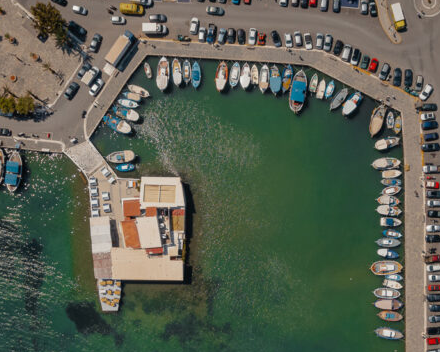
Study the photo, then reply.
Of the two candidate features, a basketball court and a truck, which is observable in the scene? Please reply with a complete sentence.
Of the two, only a truck appears.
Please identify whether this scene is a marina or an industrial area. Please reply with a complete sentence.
This looks like a marina.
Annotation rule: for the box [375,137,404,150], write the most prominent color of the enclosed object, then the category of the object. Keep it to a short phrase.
white boat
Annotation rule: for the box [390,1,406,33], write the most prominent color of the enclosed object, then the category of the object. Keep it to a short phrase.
white vehicle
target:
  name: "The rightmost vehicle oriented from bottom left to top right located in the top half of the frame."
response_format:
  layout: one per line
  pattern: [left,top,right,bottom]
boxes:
[419,84,434,101]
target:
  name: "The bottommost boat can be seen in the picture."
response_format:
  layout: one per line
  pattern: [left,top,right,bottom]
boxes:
[374,326,406,341]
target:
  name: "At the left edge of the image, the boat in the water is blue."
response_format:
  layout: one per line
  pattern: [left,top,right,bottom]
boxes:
[5,148,23,193]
